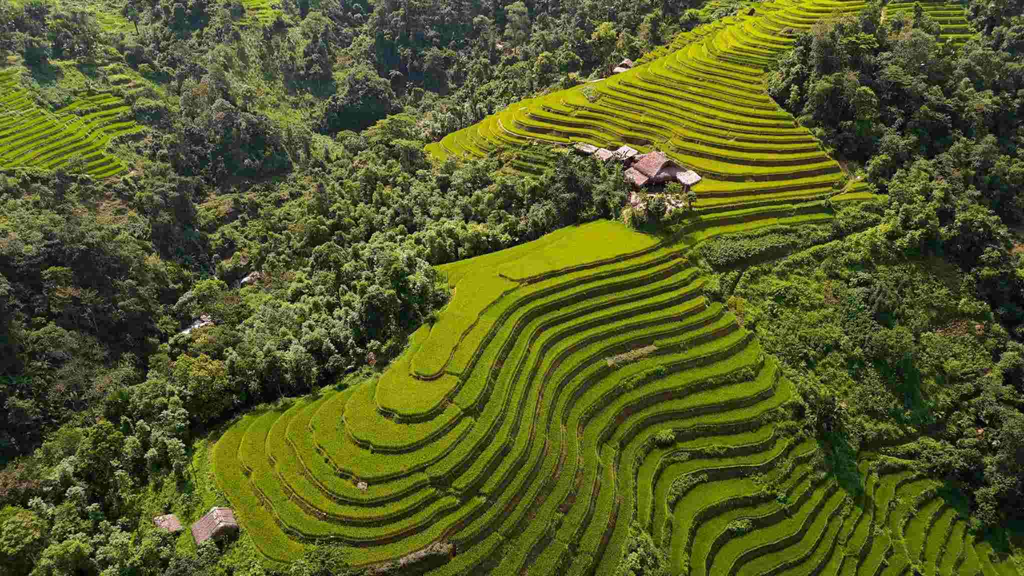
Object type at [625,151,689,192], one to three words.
house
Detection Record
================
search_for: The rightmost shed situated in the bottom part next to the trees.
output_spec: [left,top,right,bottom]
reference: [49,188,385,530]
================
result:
[190,506,237,566]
